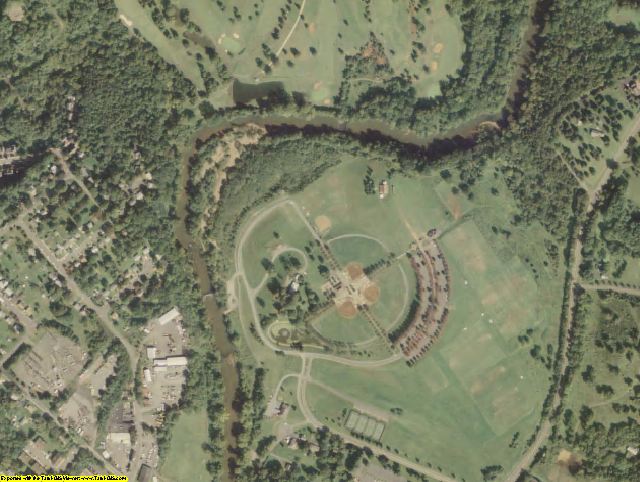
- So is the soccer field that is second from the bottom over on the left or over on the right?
right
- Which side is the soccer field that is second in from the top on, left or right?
right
